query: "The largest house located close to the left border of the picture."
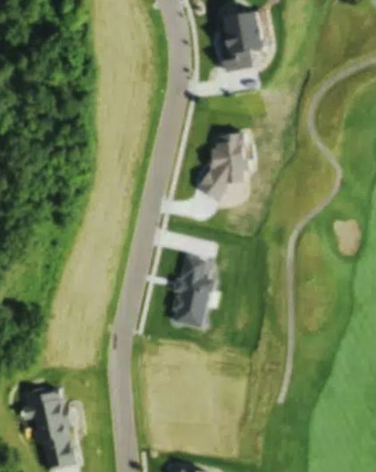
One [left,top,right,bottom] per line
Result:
[17,385,77,469]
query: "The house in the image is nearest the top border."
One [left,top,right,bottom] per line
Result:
[216,9,264,73]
